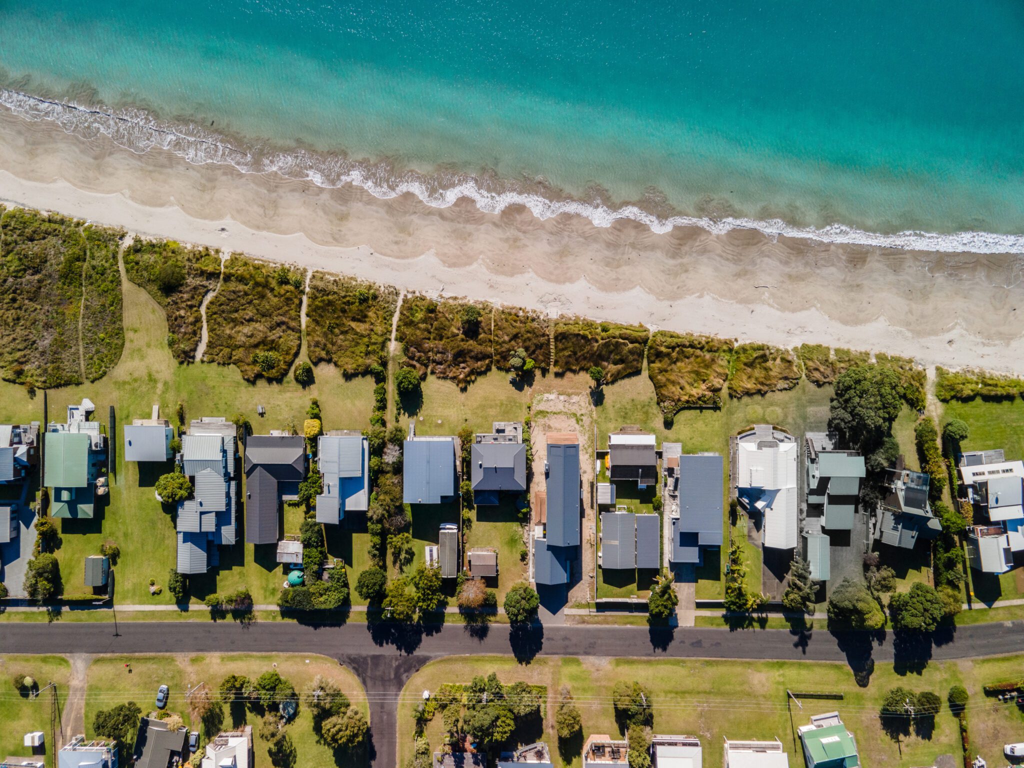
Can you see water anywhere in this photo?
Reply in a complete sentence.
Yes, there is water in the image.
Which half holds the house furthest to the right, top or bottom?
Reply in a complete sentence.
You can find the house furthest to the right in the bottom half.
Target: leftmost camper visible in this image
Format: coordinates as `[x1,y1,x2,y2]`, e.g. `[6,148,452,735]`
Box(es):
[24,730,48,746]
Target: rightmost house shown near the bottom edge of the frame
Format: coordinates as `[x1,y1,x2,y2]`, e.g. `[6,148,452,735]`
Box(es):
[793,707,859,768]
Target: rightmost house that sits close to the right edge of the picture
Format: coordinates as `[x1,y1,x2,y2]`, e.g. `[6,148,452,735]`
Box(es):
[953,448,1024,573]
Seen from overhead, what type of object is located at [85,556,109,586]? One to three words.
shed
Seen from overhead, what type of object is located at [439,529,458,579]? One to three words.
building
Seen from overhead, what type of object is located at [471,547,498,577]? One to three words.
shed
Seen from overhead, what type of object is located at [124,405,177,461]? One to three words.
house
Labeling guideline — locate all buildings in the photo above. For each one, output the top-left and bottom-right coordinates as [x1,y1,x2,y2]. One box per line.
[471,547,498,577]
[736,424,798,550]
[722,735,788,768]
[176,417,240,575]
[245,430,305,546]
[202,721,256,768]
[609,426,659,490]
[953,448,1024,573]
[139,711,194,768]
[534,433,583,586]
[872,454,942,552]
[0,758,52,768]
[581,731,630,768]
[650,729,703,768]
[0,506,22,543]
[597,513,660,570]
[471,422,526,505]
[0,425,40,481]
[58,732,123,768]
[44,396,109,518]
[315,430,370,524]
[439,529,458,579]
[85,556,109,586]
[497,740,554,768]
[597,483,615,504]
[662,442,723,568]
[124,405,177,461]
[803,432,866,535]
[403,421,461,504]
[793,707,859,768]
